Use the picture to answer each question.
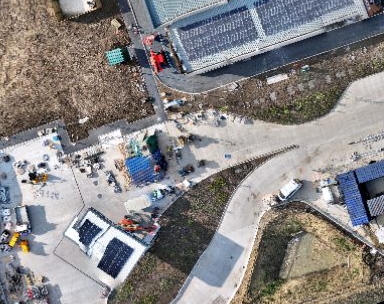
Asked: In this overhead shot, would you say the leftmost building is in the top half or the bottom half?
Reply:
bottom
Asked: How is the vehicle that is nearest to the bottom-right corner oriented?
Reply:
at an angle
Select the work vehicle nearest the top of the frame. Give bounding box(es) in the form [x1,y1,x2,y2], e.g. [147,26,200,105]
[138,25,171,48]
